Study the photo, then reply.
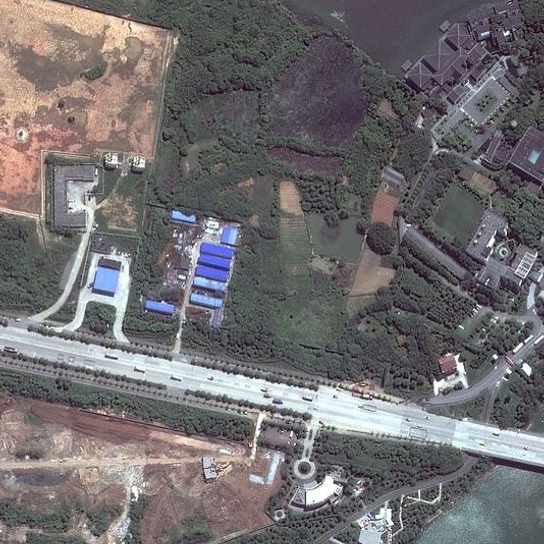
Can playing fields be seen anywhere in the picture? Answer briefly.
Yes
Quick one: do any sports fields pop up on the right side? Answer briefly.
Yes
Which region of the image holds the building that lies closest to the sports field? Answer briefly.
right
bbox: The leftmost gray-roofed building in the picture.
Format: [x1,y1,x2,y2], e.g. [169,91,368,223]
[54,165,96,230]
